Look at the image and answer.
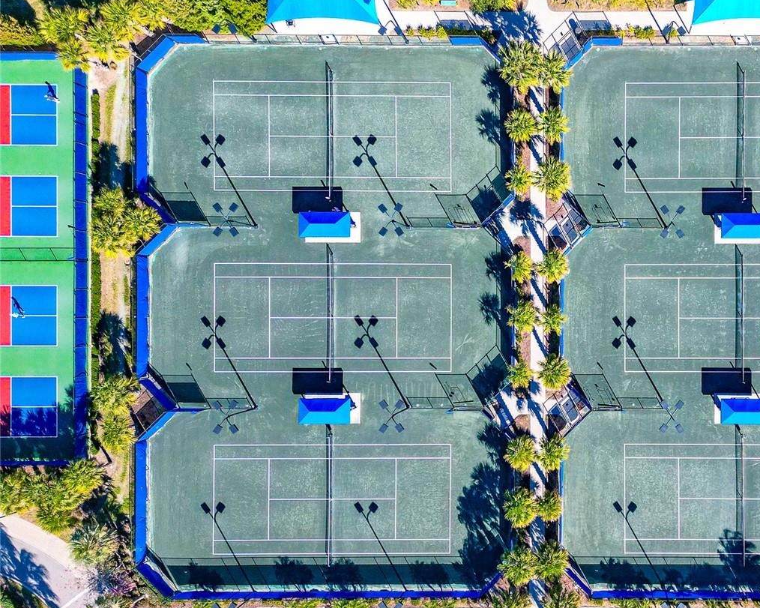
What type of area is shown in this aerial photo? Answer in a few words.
sports ground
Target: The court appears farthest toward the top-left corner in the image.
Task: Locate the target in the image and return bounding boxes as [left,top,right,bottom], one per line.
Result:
[0,84,57,145]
